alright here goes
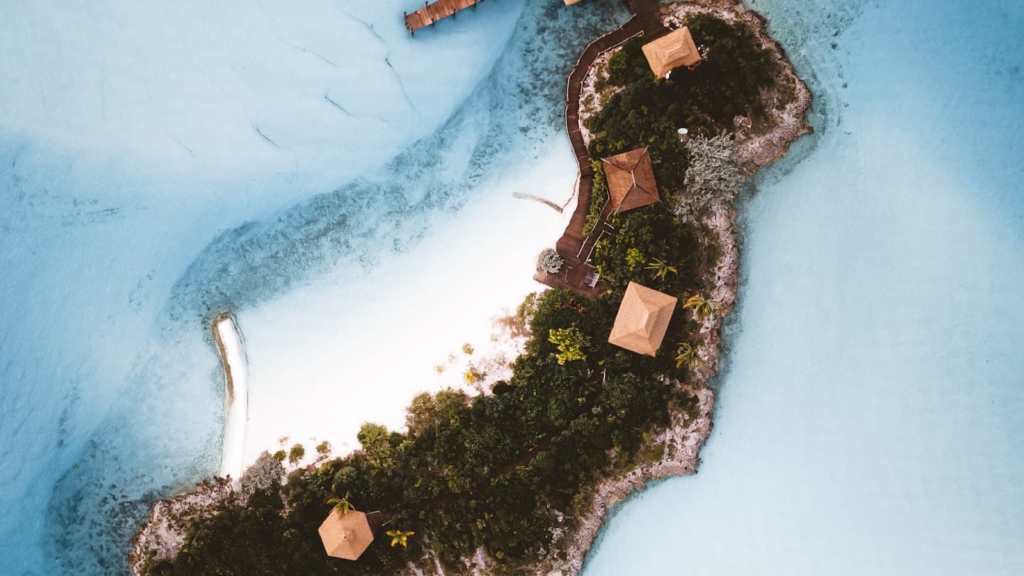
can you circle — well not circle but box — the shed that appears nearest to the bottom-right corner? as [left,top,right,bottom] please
[608,281,677,358]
